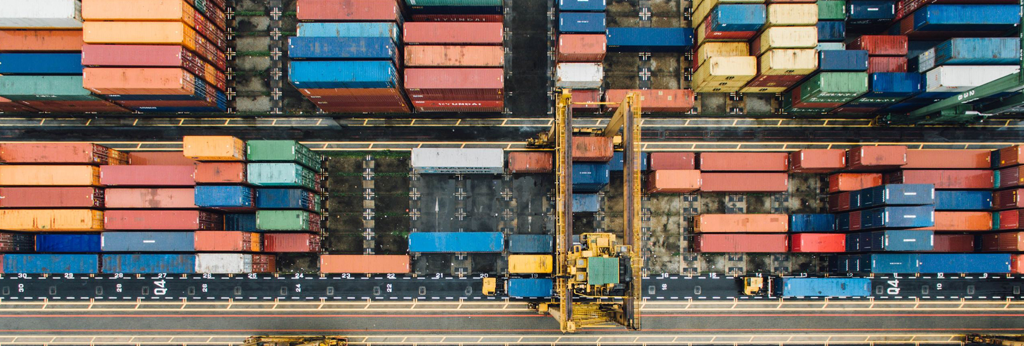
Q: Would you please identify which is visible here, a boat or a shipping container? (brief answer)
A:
shipping container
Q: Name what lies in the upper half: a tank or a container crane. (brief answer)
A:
container crane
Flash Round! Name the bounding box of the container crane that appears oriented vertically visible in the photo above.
[525,92,645,332]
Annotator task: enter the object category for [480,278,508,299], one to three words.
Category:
truck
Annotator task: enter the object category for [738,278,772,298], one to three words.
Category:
vehicle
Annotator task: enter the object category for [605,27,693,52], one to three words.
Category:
shipping container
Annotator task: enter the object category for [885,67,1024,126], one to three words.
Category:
container crane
